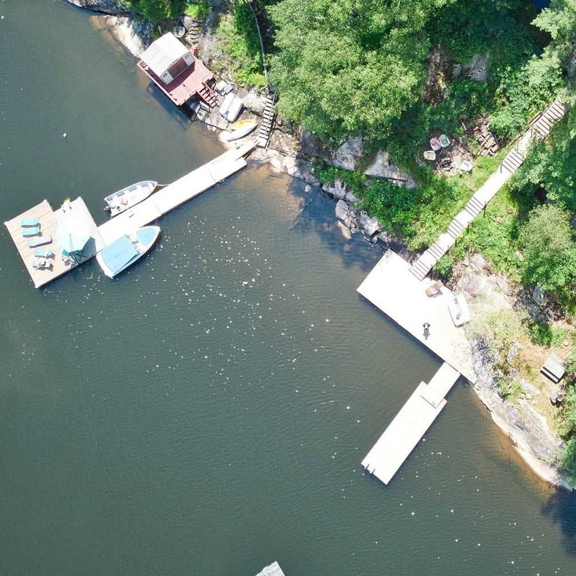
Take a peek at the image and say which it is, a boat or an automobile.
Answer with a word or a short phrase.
boat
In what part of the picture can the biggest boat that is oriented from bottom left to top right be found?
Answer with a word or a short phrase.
left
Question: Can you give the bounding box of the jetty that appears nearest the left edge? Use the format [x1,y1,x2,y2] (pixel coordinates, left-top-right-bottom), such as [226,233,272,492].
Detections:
[2,198,80,289]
